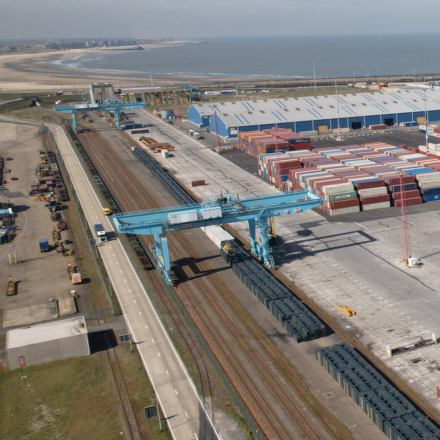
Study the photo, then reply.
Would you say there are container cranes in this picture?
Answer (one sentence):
Yes, the photo shows a container crane.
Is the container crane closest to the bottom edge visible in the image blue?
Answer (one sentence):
Yes, the container crane closest to the bottom edge is blue.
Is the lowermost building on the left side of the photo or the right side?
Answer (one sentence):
You can find the lowermost building on the left side of the picture.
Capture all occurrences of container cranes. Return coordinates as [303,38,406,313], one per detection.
[53,97,144,132]
[111,183,327,286]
